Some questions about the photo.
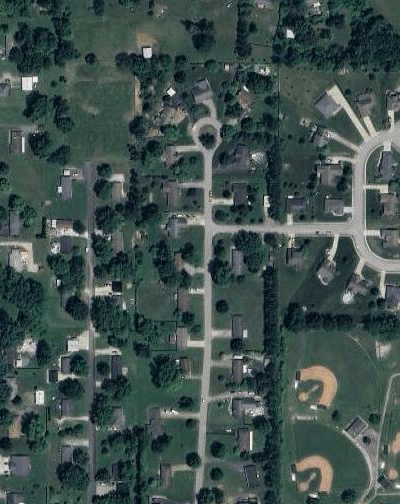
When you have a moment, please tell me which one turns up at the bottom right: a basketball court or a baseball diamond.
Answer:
baseball diamond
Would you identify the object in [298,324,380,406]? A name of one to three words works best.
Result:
baseball field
